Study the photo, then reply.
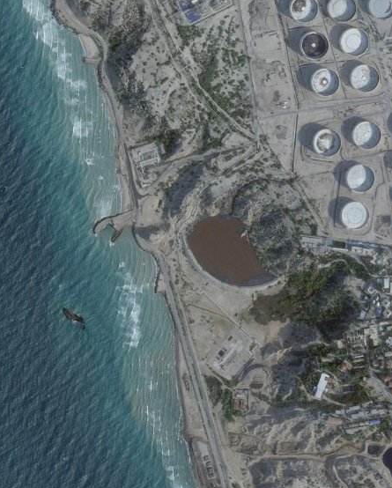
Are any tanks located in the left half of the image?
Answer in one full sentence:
No, I see no tank in the left half of the image.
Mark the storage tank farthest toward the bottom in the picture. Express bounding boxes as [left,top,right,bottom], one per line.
[340,201,368,233]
